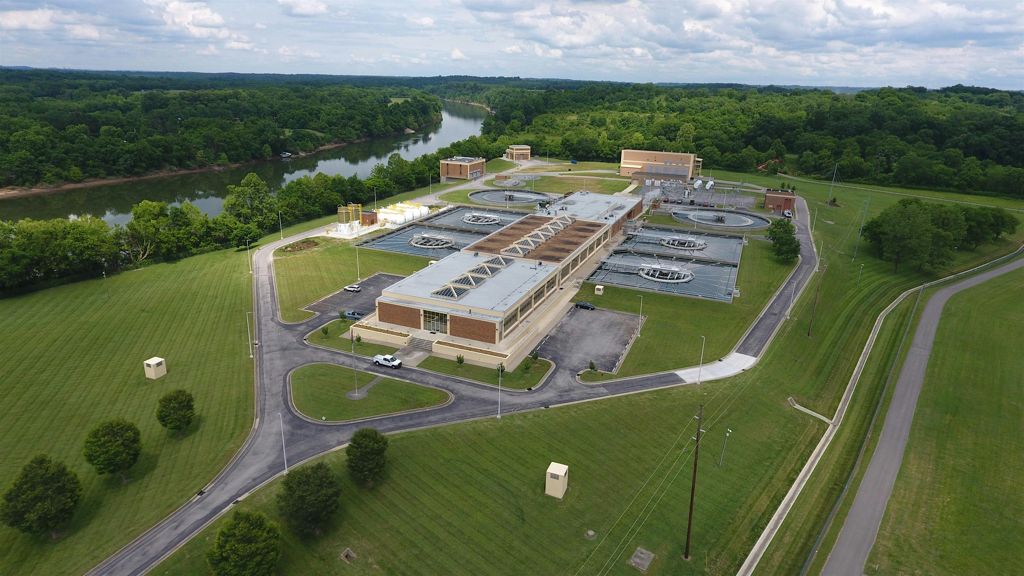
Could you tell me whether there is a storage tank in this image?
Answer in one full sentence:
Yes, a storage tank appears in the view.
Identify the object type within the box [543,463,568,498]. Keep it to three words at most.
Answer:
house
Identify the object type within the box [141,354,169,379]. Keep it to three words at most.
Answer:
house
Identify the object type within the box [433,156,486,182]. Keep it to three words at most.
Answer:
building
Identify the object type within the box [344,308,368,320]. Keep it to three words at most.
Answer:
vehicle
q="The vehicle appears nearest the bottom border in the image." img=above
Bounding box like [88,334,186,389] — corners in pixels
[372,354,405,369]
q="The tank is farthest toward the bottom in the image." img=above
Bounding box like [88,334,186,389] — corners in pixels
[586,244,740,304]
